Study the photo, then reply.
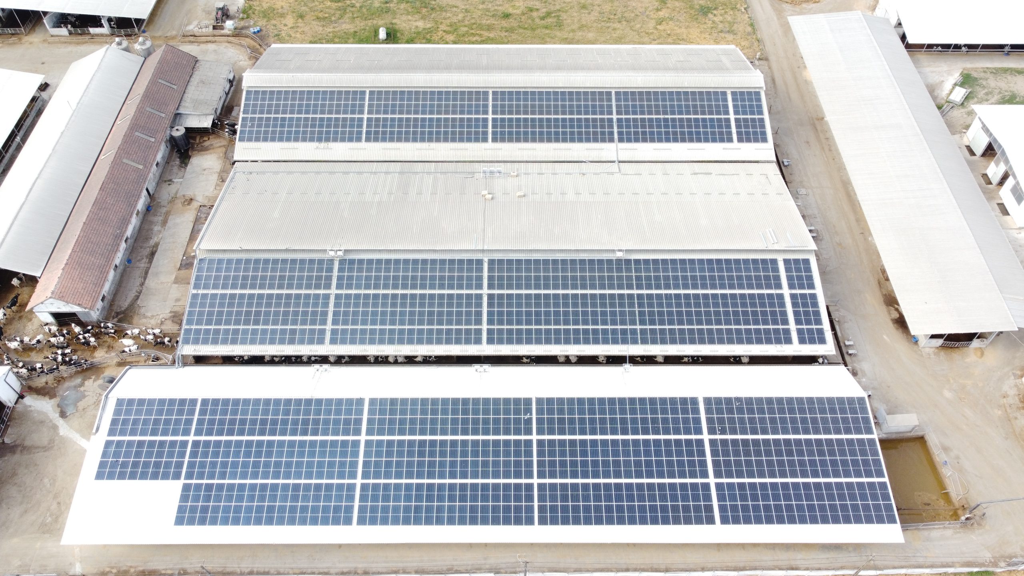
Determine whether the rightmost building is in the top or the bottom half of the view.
top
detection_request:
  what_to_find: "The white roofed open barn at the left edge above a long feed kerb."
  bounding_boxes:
[0,68,52,182]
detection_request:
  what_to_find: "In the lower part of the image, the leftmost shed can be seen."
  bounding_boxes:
[0,365,28,414]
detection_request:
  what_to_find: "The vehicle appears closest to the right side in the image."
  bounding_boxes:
[214,3,230,25]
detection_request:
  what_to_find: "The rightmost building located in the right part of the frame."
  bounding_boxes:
[965,105,1024,229]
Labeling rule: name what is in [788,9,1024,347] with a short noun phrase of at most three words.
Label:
barn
